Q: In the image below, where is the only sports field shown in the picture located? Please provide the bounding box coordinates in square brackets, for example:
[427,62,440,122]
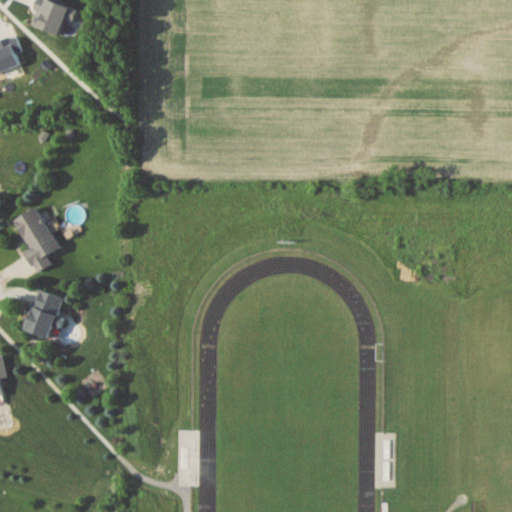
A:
[216,274,360,512]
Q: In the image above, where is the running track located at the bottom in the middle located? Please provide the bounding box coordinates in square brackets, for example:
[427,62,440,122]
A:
[200,258,376,512]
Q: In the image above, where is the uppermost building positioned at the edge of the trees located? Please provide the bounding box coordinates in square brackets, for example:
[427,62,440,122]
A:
[31,0,66,35]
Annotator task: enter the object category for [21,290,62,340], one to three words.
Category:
house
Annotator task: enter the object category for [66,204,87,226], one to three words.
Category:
swimming pool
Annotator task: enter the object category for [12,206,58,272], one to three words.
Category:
house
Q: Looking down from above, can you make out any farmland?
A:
Yes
